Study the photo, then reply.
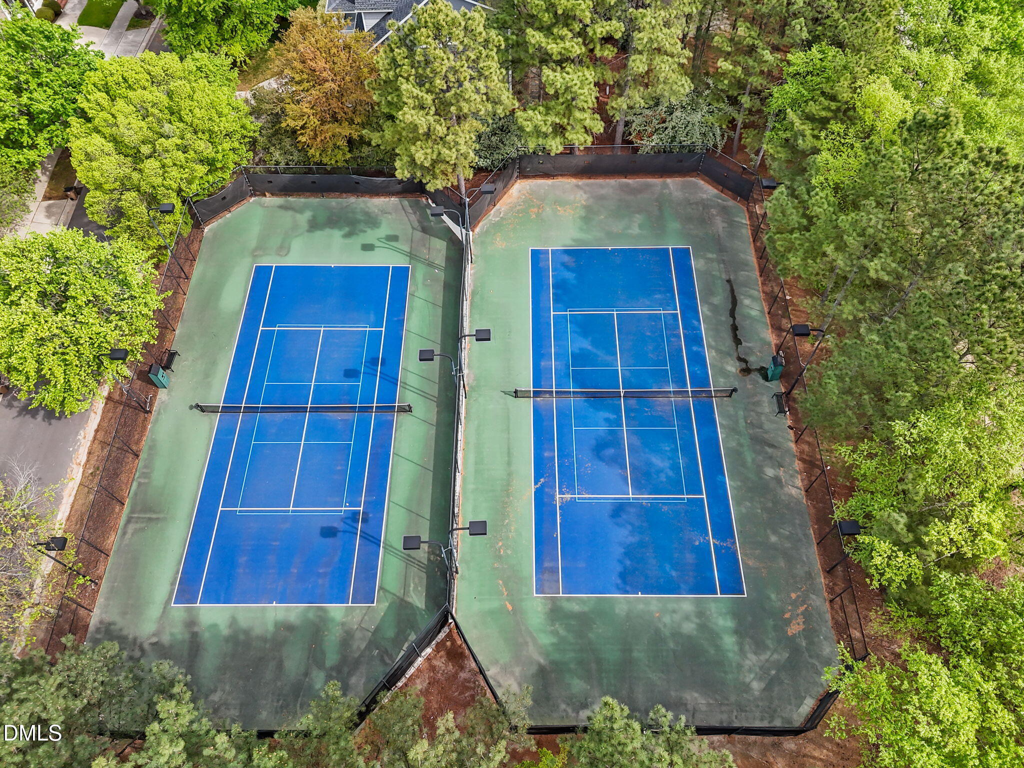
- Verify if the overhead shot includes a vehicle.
No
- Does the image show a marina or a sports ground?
sports ground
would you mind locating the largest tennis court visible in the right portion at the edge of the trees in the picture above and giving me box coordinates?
[454,179,838,726]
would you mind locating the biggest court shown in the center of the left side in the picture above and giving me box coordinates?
[80,197,467,726]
